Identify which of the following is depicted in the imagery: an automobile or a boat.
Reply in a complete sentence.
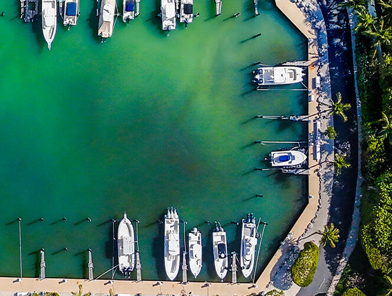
The one in the frame is a boat.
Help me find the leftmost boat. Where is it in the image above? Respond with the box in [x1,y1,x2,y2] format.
[41,0,57,49]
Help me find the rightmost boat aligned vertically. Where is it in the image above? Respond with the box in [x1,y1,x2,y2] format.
[240,210,256,277]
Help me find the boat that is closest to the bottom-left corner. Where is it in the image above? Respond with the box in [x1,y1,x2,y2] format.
[117,211,134,279]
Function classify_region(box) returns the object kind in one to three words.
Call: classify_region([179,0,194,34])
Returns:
boat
